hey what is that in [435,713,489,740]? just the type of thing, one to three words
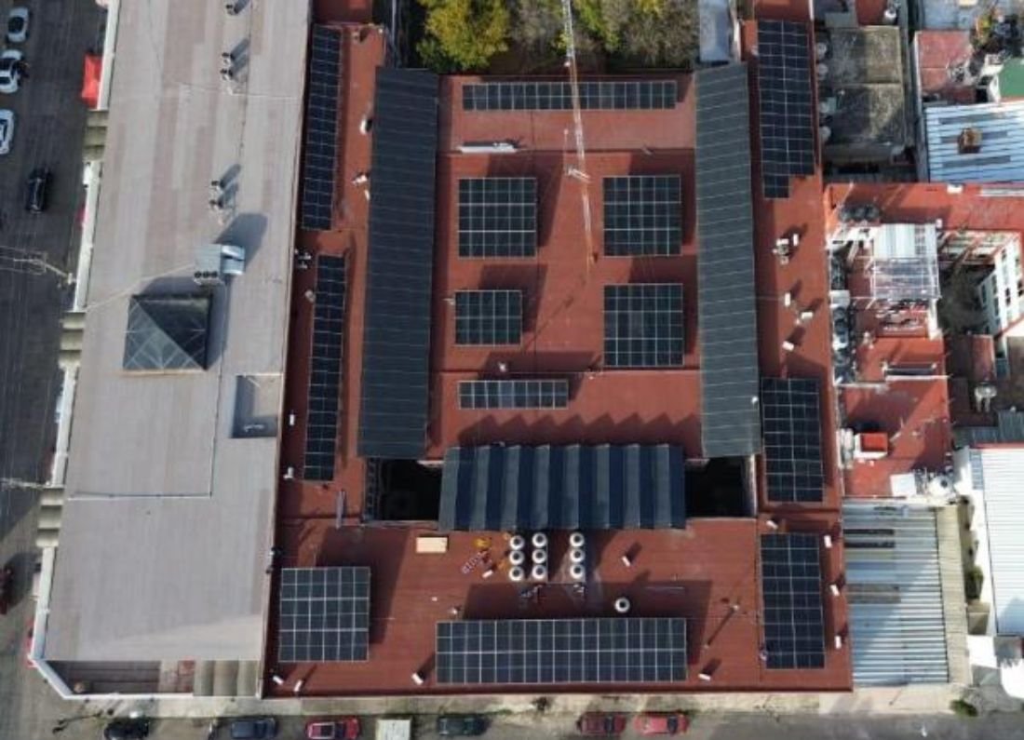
car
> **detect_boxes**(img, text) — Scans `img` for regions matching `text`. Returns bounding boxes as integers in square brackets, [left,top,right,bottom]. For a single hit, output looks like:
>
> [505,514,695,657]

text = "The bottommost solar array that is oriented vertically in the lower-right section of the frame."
[758,534,827,668]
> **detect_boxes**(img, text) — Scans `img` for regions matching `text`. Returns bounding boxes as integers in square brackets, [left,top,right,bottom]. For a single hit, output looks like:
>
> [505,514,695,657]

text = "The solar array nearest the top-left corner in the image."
[305,25,340,229]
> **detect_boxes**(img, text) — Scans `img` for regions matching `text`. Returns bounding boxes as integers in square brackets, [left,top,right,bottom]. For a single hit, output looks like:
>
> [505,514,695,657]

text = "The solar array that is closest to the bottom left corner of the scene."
[279,564,377,662]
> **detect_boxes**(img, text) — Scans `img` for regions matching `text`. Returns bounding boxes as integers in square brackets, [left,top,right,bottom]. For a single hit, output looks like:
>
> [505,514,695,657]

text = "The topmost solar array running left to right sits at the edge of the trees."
[463,81,677,118]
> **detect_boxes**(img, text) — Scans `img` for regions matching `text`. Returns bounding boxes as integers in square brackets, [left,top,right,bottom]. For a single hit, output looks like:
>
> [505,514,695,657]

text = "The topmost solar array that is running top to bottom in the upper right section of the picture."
[756,21,815,197]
